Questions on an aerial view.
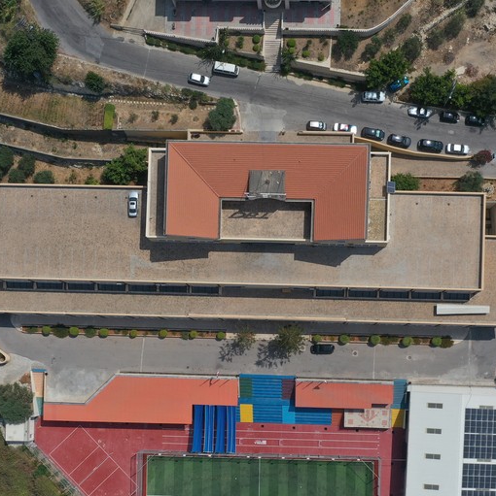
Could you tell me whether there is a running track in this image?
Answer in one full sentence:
Yes, there is a running track in the image.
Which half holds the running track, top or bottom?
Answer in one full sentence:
Seen from above, the running track lies in the bottom half of the view.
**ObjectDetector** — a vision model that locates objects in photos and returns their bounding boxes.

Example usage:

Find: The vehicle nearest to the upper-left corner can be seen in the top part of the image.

[189,73,211,86]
